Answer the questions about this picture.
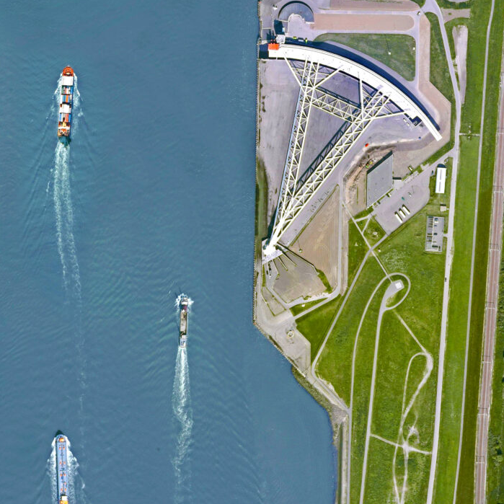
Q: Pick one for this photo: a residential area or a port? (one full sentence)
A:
What you see here is a port.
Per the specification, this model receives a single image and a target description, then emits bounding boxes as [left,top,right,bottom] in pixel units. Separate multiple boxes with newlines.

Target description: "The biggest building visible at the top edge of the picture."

[279,1,314,34]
